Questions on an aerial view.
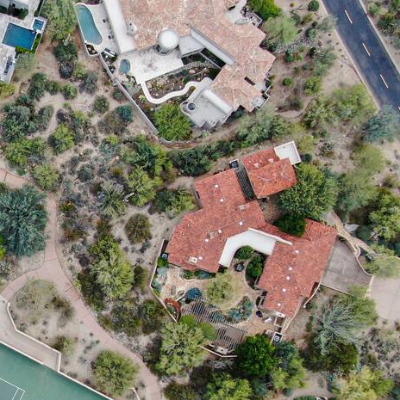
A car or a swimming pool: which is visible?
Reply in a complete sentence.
There is a swimming pool in the scene.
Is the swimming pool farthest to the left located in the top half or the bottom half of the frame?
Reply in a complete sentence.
Seen from above, the swimming pool farthest to the left lies in the top half of the view.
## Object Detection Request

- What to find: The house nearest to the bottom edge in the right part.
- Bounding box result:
[167,141,338,317]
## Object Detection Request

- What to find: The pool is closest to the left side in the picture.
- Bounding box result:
[0,20,37,47]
